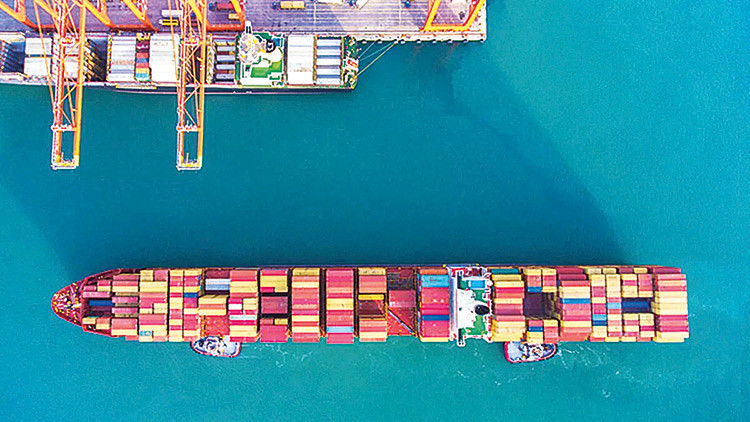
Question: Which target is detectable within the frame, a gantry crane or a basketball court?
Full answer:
The one in the frame is a gantry crane.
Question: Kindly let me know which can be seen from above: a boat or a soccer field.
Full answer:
Of the two, only a boat appears.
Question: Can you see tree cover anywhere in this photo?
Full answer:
No, there's no tree cover in this view.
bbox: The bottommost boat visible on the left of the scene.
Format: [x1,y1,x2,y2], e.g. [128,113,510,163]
[189,336,244,360]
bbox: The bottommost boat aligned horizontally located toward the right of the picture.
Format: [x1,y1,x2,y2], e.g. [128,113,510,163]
[502,338,560,364]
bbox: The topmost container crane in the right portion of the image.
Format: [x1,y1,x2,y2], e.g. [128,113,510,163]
[423,0,480,29]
